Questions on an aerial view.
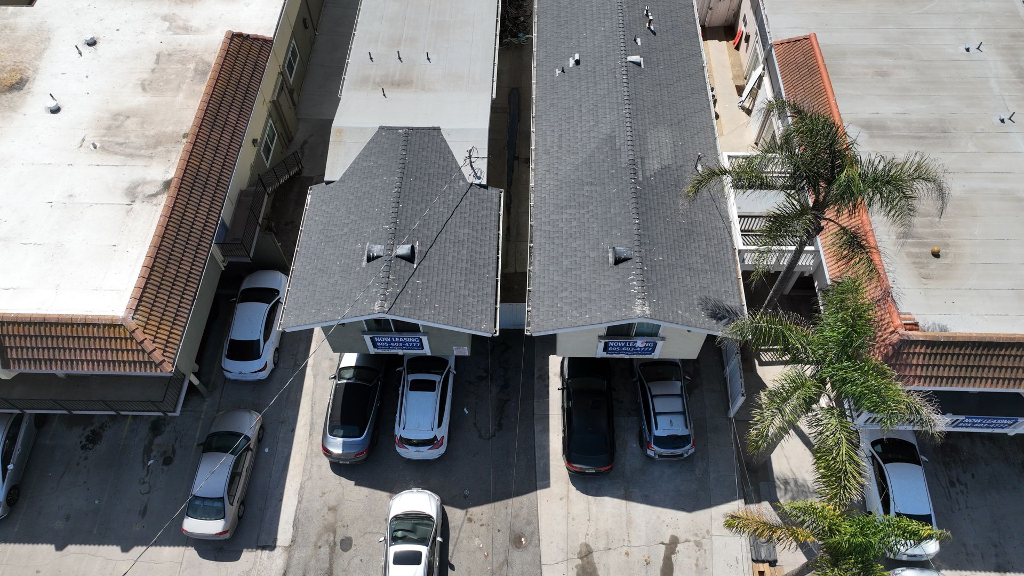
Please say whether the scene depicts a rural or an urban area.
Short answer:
urban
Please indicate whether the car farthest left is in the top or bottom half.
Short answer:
bottom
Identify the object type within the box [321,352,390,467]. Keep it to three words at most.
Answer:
car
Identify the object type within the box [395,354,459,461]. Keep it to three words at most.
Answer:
car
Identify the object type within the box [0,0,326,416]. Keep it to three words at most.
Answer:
building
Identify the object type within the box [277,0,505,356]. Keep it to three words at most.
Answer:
building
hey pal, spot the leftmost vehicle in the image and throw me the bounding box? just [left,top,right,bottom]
[0,411,43,514]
